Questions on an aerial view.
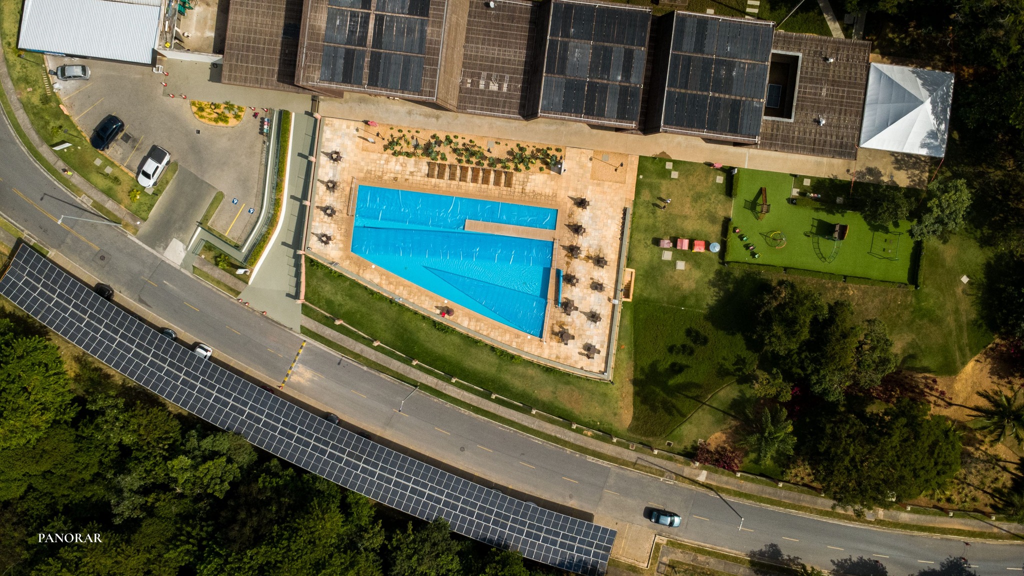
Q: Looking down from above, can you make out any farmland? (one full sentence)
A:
No, farmland can't be seen anywhere here.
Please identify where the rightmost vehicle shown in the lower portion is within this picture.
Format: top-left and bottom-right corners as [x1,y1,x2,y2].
[648,508,684,531]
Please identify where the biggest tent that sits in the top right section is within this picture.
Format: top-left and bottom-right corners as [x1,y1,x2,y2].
[850,62,956,200]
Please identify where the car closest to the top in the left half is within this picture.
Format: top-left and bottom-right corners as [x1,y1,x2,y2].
[52,62,89,80]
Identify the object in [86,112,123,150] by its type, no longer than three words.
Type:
car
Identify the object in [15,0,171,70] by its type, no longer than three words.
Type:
shed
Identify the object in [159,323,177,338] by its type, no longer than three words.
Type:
car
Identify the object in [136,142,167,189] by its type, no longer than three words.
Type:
truck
